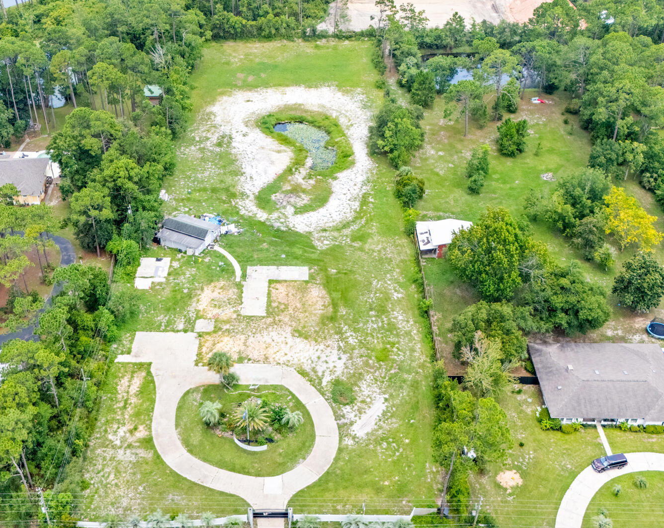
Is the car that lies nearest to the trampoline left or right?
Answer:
right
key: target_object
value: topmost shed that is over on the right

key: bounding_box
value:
[416,219,472,260]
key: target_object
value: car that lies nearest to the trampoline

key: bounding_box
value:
[589,449,628,471]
